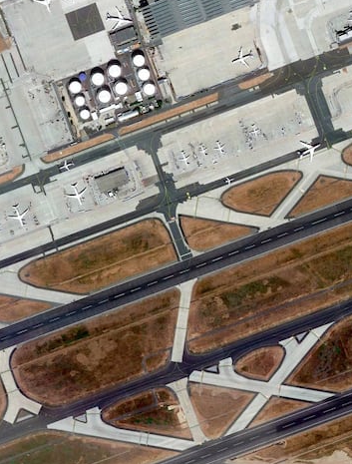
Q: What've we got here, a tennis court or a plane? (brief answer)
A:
plane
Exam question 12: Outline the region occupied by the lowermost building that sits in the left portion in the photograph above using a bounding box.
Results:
[94,166,130,193]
